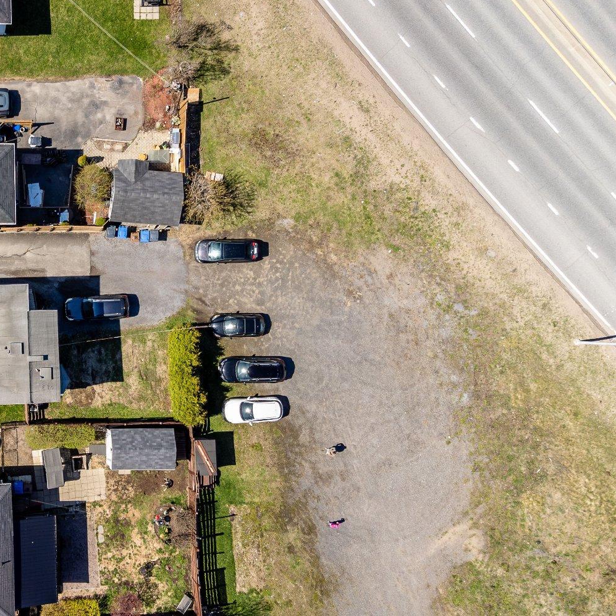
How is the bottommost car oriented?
from left to right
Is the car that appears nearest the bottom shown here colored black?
No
